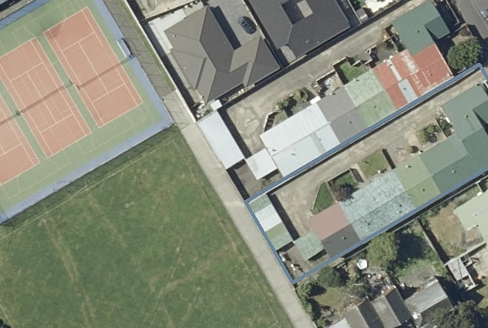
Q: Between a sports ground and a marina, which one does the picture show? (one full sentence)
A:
This looks like a sports ground.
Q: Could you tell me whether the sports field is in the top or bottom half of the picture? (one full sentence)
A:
The sports field sits in the bottom half of the picture.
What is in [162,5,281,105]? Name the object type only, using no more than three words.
house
